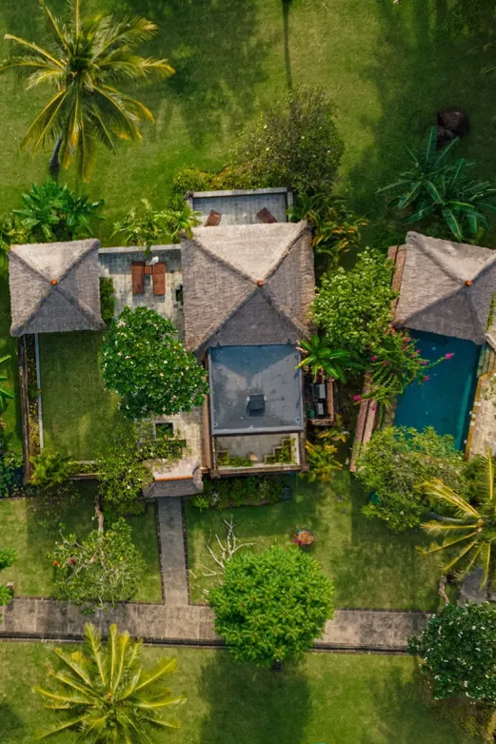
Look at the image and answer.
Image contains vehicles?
No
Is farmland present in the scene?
No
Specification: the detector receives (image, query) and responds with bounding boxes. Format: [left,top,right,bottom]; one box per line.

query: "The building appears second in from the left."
[182,221,315,477]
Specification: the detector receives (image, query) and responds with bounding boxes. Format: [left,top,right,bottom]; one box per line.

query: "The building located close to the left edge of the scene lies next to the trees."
[8,239,105,336]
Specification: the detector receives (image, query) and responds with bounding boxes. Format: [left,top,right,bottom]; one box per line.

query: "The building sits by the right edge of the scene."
[394,233,496,344]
